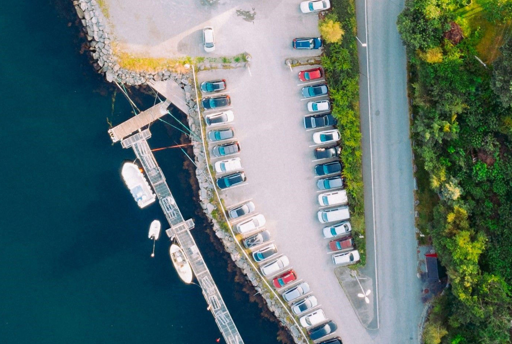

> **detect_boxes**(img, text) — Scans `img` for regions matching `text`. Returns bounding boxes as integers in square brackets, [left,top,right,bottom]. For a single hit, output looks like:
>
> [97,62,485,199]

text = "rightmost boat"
[171,244,191,283]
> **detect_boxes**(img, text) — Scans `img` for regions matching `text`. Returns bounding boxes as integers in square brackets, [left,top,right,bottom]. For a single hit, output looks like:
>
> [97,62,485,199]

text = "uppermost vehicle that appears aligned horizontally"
[300,0,331,13]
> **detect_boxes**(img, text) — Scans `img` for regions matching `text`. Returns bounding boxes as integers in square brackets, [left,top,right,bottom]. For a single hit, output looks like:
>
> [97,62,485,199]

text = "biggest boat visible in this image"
[122,161,155,210]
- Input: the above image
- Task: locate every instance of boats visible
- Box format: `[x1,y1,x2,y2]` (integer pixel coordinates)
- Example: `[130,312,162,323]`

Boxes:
[149,220,160,241]
[171,244,191,283]
[122,161,155,210]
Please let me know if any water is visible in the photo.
Yes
